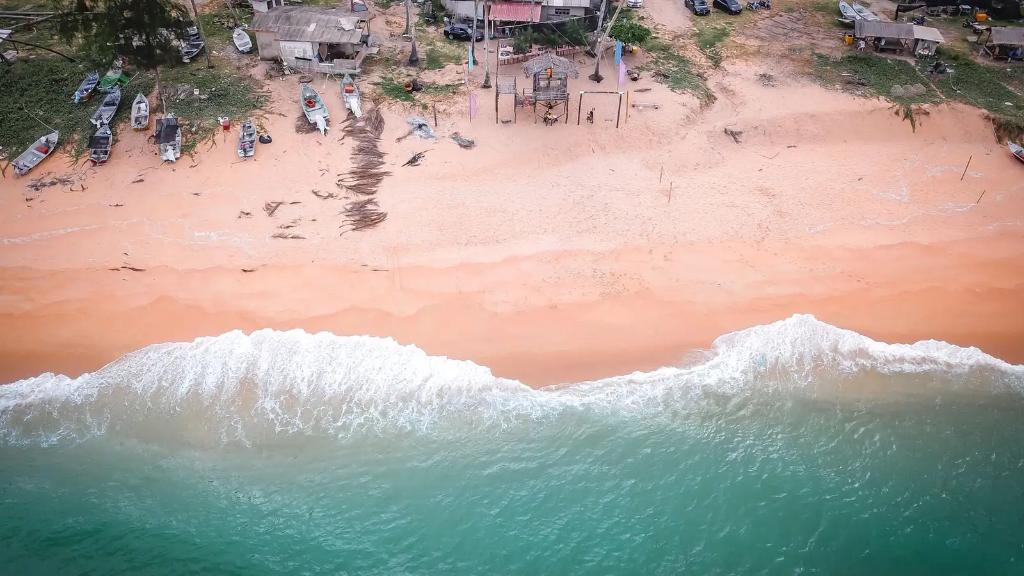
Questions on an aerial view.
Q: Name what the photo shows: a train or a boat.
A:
boat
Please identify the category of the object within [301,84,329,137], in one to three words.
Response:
boat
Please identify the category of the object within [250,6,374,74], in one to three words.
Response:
house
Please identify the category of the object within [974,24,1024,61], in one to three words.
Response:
shed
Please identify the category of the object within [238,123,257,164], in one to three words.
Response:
boat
